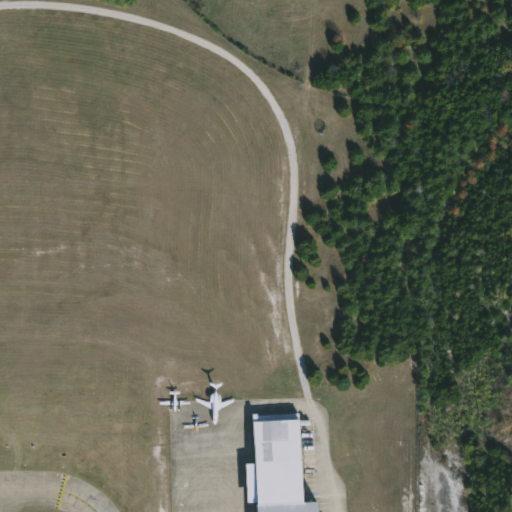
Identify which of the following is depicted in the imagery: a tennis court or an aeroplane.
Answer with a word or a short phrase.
aeroplane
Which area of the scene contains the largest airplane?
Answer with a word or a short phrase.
bottom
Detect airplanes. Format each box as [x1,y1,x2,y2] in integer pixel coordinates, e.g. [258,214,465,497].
[196,384,236,425]
[184,416,208,432]
[160,392,190,412]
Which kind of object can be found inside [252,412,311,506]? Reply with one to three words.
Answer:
hangar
